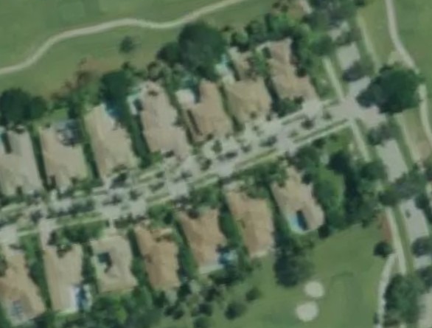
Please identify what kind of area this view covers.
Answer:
residential area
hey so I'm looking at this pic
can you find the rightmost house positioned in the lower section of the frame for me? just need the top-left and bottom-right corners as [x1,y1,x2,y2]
[275,167,323,237]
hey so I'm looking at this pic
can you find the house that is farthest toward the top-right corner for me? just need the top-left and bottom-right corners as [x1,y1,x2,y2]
[264,41,316,109]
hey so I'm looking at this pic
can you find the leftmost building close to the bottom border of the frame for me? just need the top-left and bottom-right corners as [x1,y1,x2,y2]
[0,247,51,323]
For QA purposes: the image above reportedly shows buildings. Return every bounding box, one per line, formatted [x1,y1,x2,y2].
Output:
[135,81,188,159]
[0,247,51,323]
[138,224,183,293]
[44,243,92,314]
[0,124,41,200]
[33,123,88,188]
[79,105,137,177]
[230,189,278,259]
[185,77,230,144]
[275,167,323,237]
[90,235,139,295]
[213,54,270,122]
[264,41,316,109]
[180,205,229,270]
